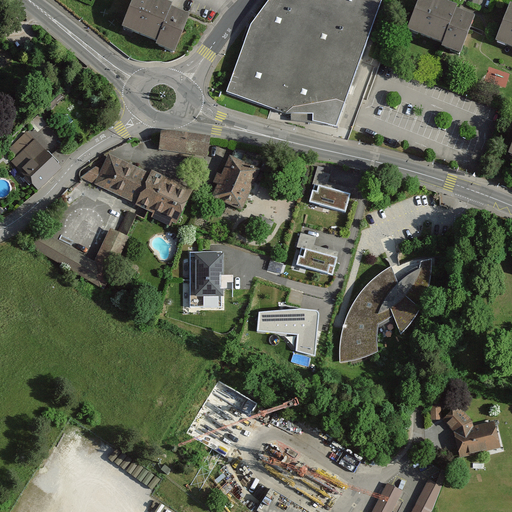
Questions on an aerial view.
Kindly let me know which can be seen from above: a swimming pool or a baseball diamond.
swimming pool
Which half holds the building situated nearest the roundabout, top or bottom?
top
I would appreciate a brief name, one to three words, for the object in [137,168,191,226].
house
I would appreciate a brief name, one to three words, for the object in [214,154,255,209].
house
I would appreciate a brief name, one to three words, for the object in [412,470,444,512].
barn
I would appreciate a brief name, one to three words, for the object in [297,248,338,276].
building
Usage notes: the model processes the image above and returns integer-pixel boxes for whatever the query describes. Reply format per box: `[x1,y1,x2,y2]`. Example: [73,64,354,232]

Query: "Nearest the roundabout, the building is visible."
[159,130,210,157]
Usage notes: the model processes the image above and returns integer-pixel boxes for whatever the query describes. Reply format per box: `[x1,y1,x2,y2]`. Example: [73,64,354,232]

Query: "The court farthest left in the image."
[63,208,104,252]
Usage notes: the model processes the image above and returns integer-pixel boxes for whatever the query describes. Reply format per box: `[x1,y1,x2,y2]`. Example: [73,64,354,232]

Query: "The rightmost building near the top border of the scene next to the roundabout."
[227,0,376,128]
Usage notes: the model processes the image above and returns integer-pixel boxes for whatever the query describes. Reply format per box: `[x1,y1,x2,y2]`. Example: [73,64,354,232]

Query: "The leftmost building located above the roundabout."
[122,0,172,44]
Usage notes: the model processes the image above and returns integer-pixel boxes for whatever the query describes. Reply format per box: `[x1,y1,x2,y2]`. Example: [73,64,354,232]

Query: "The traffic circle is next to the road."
[106,52,222,138]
